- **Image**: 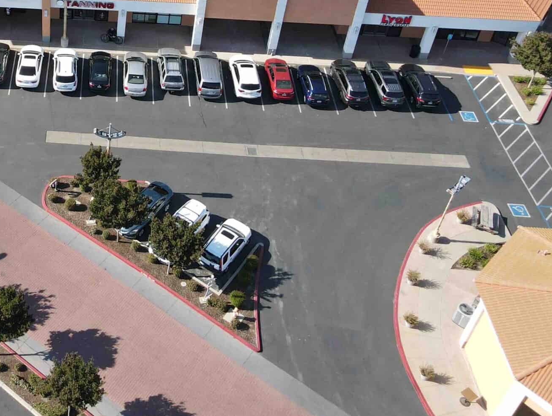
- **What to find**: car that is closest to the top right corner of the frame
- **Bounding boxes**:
[400,62,443,110]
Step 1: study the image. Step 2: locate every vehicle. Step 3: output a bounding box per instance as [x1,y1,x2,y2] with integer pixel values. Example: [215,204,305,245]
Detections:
[197,217,260,282]
[121,54,150,98]
[333,60,371,107]
[400,62,443,110]
[264,58,296,101]
[193,52,224,100]
[171,195,212,238]
[54,47,82,93]
[119,179,176,239]
[232,55,262,99]
[367,60,407,107]
[158,46,186,92]
[0,42,12,85]
[296,61,331,106]
[17,45,45,88]
[87,52,114,93]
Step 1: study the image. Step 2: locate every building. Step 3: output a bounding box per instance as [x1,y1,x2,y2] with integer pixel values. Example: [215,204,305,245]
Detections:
[453,226,552,416]
[0,0,552,65]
